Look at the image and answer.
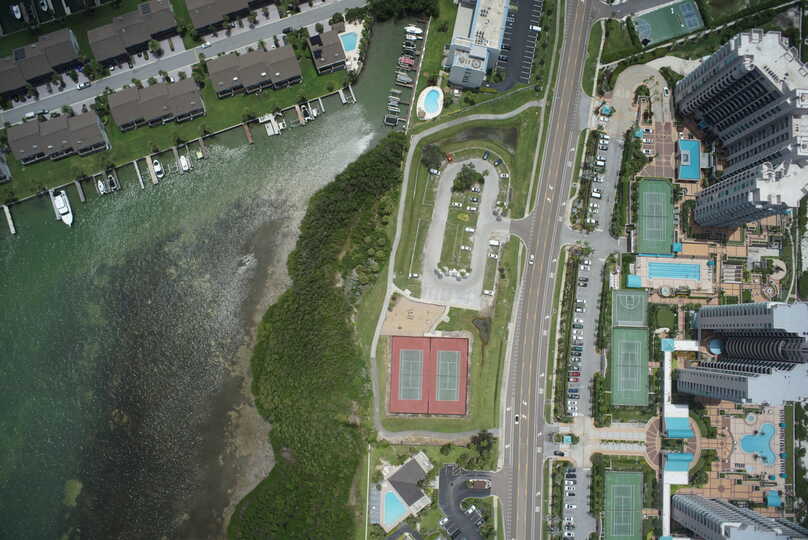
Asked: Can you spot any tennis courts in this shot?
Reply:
Yes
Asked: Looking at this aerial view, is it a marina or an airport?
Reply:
marina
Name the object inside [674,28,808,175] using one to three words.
building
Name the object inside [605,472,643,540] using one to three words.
tennis court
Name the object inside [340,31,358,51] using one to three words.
swimming pool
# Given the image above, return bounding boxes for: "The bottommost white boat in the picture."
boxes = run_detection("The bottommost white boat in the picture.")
[52,189,69,225]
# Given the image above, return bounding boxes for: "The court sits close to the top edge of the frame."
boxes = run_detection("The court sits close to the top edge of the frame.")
[635,0,705,46]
